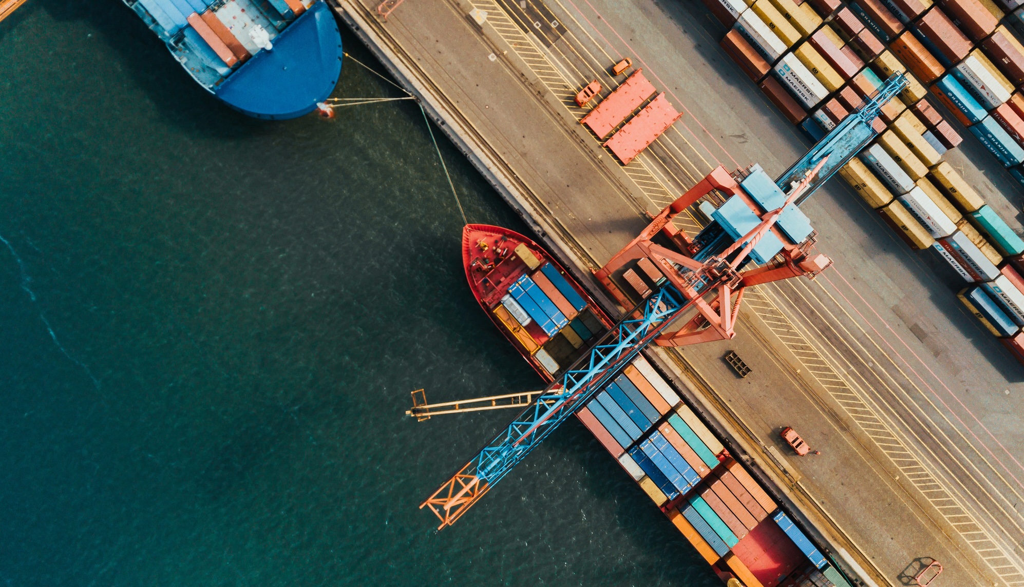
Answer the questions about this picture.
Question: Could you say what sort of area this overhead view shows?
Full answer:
This image shows a port.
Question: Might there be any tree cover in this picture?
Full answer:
No, the scene doesn't show any tree cover.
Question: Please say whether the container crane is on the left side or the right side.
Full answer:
The container crane appears in the right half of the scene.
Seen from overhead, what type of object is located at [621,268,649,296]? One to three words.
shipping container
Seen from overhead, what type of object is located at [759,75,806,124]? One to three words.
shipping container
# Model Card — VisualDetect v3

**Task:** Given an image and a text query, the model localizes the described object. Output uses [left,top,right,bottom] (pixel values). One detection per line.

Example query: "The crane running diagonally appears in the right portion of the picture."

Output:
[416,72,917,540]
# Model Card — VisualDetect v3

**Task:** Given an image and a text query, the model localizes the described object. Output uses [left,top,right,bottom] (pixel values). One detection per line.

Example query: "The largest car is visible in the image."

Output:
[612,59,631,76]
